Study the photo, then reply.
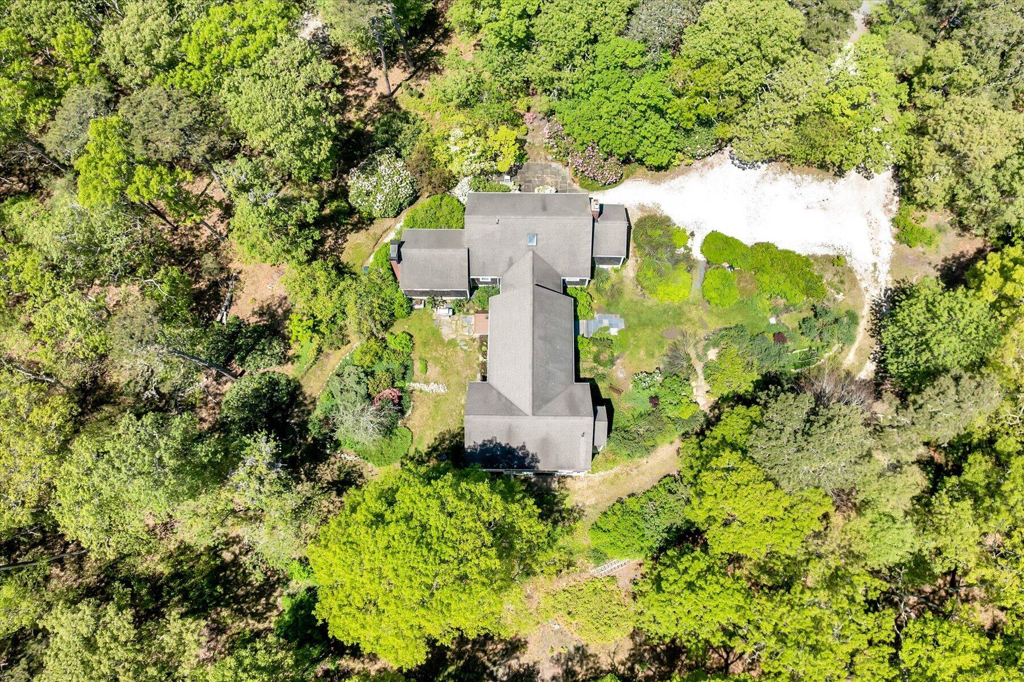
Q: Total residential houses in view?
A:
one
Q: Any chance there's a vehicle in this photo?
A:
No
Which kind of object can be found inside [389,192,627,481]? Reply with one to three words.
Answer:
house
